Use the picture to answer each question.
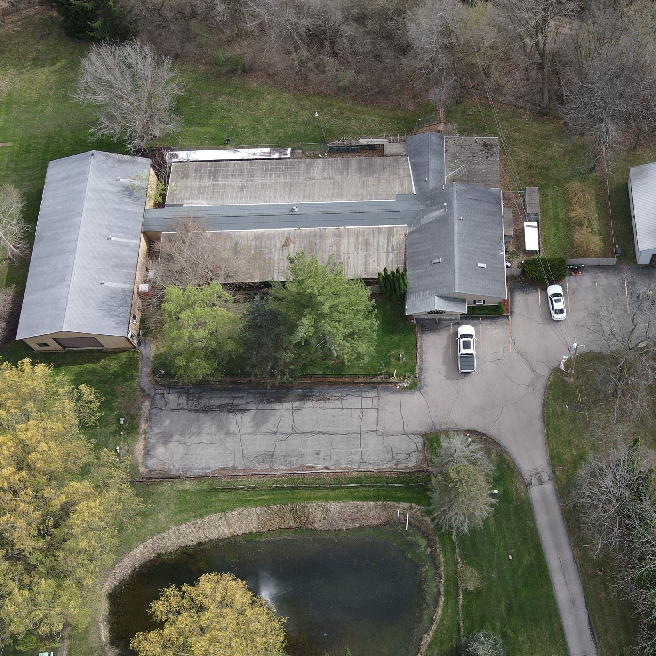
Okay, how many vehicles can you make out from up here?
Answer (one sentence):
In total, 2 vehicles can be seen.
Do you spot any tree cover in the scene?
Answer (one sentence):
Yes, the picture does contain tree cover.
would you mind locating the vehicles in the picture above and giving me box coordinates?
[455,325,479,377]
[545,287,567,323]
